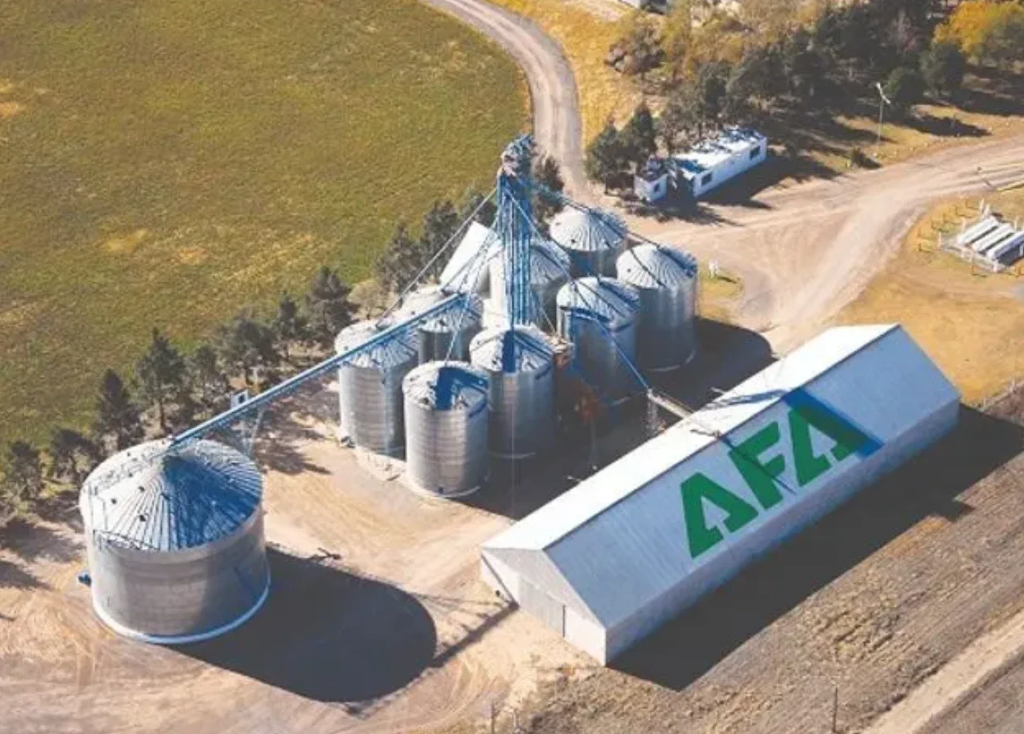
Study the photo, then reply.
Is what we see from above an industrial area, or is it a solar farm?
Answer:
industrial area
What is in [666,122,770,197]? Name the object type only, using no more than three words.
house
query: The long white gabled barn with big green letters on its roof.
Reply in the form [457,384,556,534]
[479,326,960,666]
